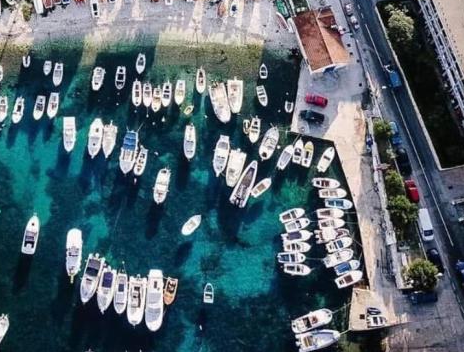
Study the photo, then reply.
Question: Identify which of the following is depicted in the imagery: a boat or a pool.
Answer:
boat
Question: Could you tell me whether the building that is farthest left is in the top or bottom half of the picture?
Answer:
top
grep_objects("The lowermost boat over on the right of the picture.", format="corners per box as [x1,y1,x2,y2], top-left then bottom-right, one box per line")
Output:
[292,330,339,352]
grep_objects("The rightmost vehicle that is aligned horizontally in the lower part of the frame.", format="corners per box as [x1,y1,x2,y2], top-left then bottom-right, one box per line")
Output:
[409,288,439,303]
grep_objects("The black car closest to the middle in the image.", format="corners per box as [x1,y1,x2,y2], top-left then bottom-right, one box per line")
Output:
[301,108,326,123]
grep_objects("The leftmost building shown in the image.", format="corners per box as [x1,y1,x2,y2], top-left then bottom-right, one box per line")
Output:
[291,7,349,77]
